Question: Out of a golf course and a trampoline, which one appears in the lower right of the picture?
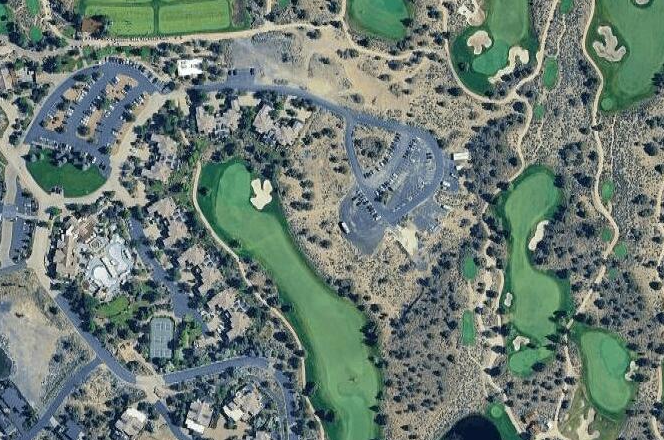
golf course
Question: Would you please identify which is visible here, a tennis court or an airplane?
tennis court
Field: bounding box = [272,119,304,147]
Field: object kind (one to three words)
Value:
building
